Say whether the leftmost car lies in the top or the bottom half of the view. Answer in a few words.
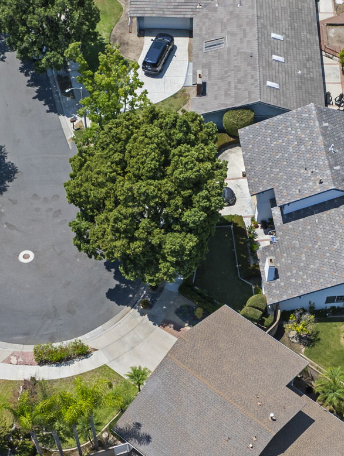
top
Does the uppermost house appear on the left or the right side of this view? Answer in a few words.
right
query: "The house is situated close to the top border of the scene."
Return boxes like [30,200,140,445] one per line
[129,0,325,132]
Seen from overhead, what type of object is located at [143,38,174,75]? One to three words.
car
